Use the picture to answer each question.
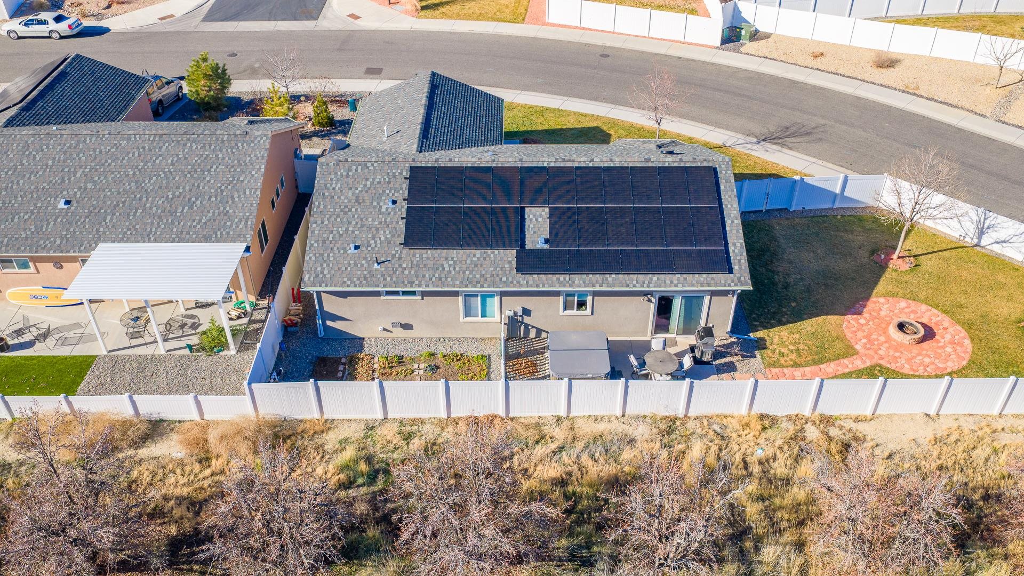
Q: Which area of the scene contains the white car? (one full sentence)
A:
Look in the top left portion of the view to spot the white car.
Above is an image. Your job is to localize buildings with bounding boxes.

[0,57,306,300]
[300,73,757,341]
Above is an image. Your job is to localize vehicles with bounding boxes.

[134,70,186,119]
[0,9,83,39]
